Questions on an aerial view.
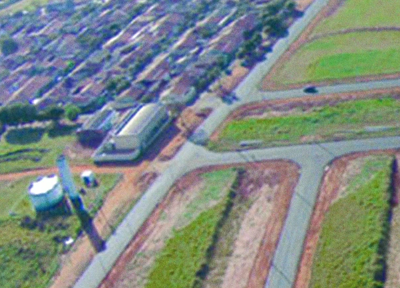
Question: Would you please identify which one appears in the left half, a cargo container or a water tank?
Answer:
water tank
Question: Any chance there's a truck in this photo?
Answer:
No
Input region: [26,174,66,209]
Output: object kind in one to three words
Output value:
water tank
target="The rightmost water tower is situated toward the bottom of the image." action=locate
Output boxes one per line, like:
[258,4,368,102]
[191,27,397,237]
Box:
[57,147,87,212]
